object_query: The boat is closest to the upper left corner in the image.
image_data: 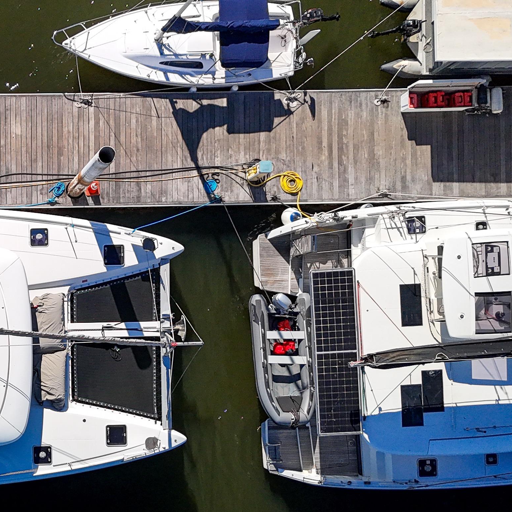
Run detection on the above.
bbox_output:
[51,0,340,86]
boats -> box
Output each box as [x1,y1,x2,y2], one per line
[369,0,512,81]
[0,210,206,483]
[250,291,316,427]
[51,0,340,86]
[250,201,512,489]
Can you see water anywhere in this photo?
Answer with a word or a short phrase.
Yes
